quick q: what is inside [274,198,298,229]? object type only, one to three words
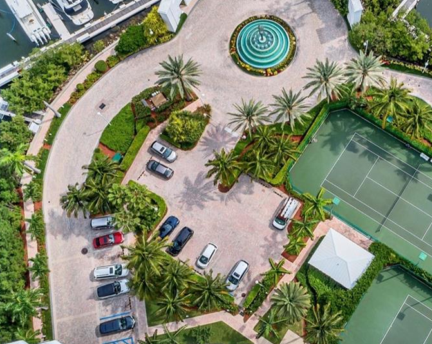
car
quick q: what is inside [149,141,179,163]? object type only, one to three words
car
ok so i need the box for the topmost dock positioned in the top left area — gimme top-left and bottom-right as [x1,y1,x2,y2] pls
[36,0,71,40]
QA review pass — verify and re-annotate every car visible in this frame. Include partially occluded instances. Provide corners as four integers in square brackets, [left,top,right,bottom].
[96,281,129,299]
[145,160,175,179]
[274,198,298,229]
[99,315,135,336]
[196,241,218,271]
[94,264,127,280]
[168,226,195,255]
[92,232,125,249]
[149,141,179,163]
[156,213,183,242]
[226,260,250,292]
